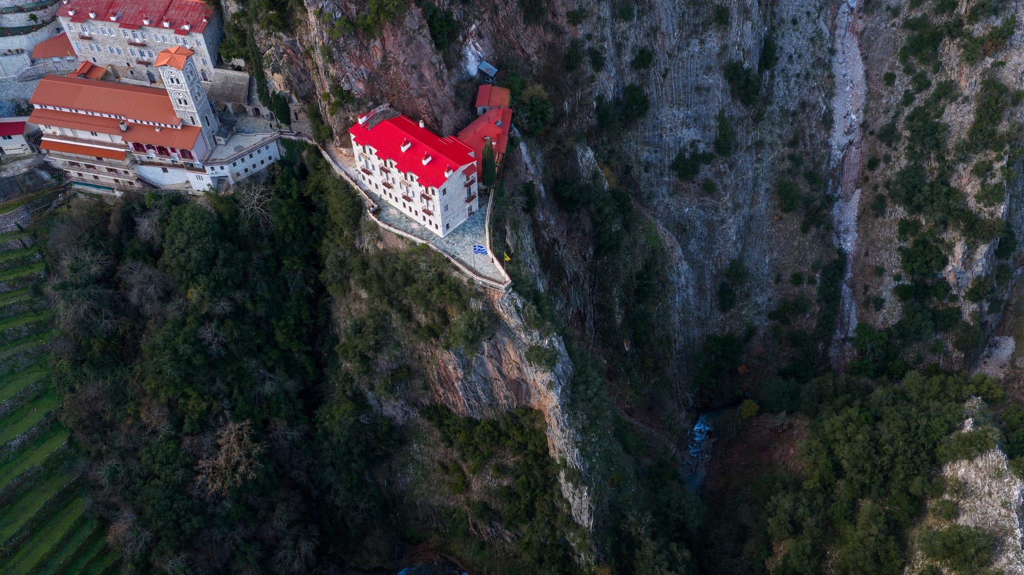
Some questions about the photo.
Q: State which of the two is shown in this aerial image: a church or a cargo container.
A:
church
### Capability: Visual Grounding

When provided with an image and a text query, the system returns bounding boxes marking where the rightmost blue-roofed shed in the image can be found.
[478,60,498,84]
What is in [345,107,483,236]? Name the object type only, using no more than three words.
building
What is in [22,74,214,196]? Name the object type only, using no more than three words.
church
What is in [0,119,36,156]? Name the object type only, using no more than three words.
house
